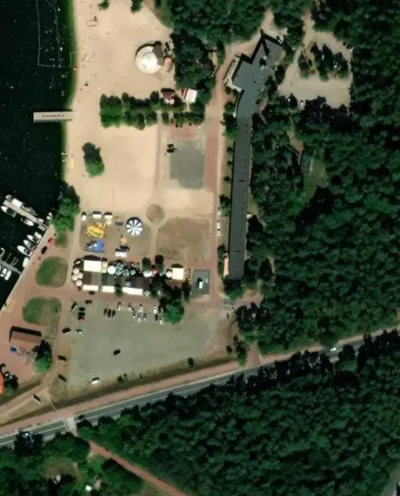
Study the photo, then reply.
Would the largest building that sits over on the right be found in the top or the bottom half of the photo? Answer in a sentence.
It is in the top half that the largest building that sits over on the right appears.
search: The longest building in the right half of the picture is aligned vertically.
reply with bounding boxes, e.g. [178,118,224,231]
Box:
[227,38,282,280]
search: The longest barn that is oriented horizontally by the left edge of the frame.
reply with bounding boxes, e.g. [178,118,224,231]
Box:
[9,330,42,350]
